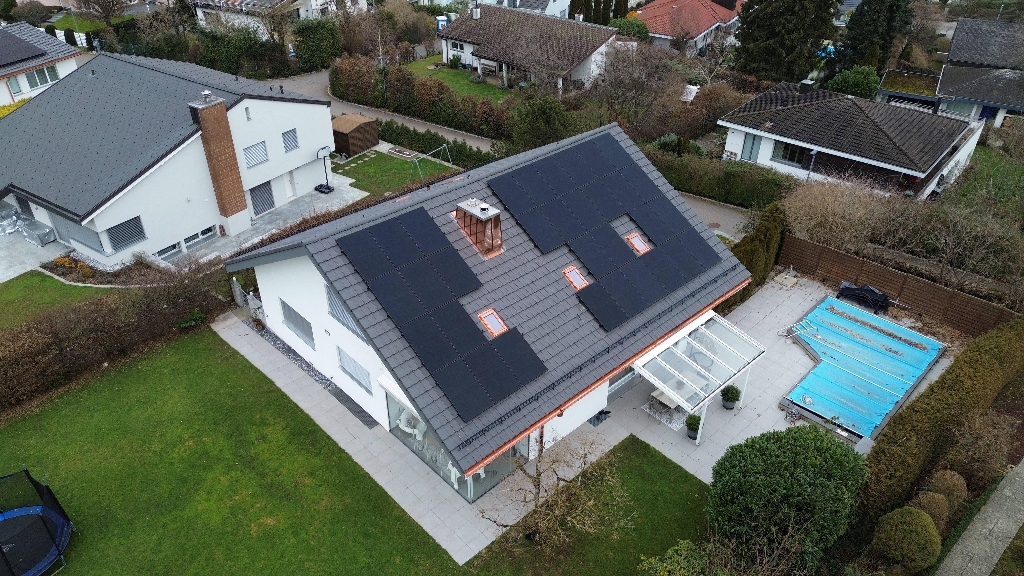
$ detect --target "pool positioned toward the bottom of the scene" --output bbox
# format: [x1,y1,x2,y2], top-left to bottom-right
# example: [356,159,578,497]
[778,294,956,454]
